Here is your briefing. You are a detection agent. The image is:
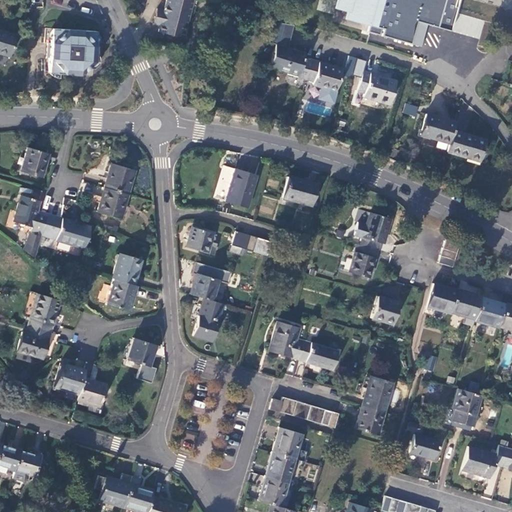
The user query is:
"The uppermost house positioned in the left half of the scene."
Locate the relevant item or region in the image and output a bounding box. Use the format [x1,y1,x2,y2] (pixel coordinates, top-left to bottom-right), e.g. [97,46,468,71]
[149,0,194,41]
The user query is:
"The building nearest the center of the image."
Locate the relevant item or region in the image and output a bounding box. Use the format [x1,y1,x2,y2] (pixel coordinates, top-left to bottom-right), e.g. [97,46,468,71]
[228,232,270,258]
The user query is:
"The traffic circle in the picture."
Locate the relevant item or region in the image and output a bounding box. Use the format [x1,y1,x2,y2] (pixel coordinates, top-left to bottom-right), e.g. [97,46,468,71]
[132,102,176,146]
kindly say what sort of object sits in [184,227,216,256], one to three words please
house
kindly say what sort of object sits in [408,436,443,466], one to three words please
house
